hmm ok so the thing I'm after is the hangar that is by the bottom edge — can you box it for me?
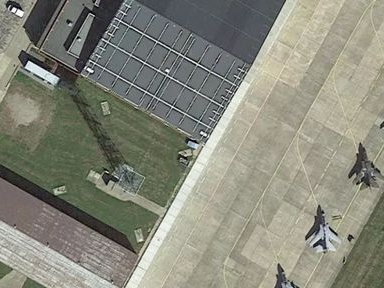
[0,177,136,288]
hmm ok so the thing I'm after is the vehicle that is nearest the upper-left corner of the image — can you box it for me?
[8,4,25,18]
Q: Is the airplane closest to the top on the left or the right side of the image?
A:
right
